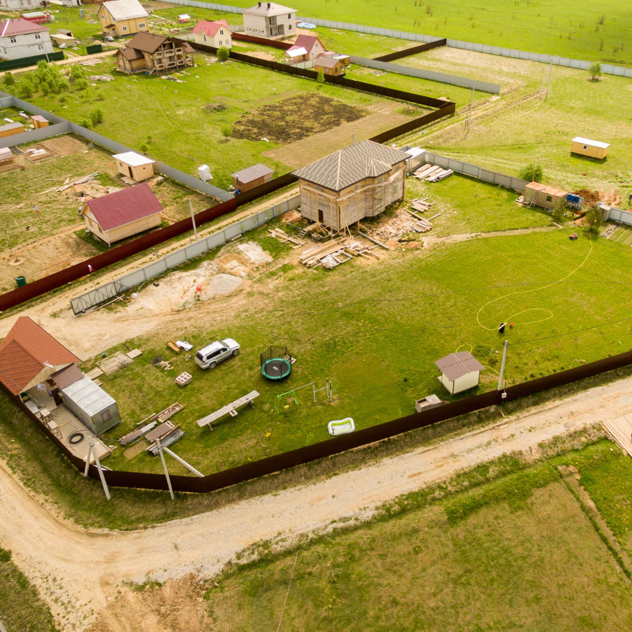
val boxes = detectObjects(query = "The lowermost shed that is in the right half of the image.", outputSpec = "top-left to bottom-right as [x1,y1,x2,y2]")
[433,352,489,396]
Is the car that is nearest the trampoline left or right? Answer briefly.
left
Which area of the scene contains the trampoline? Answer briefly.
center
